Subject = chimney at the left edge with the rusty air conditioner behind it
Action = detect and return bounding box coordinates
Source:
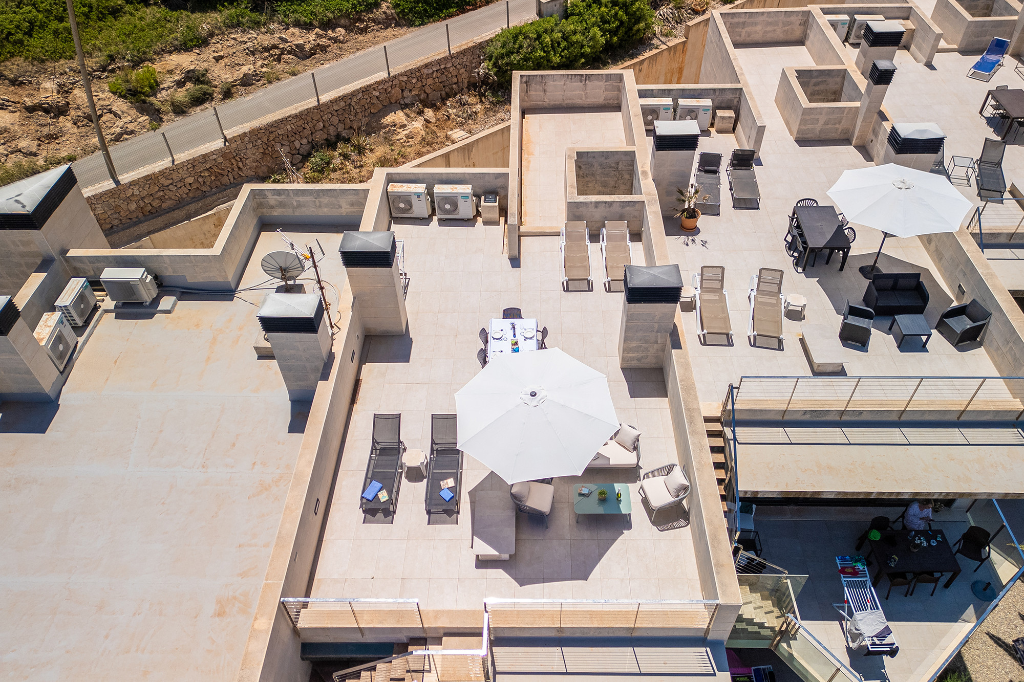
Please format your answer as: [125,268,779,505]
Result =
[0,297,64,400]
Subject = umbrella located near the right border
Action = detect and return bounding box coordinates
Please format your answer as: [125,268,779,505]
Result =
[826,162,973,277]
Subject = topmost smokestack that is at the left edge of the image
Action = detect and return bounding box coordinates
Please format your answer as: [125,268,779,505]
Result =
[0,163,108,292]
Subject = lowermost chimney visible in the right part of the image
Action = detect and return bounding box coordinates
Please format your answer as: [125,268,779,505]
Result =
[619,260,683,369]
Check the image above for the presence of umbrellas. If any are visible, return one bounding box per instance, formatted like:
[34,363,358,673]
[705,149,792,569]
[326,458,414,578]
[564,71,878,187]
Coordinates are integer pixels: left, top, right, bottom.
[452,349,623,486]
[826,162,973,277]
